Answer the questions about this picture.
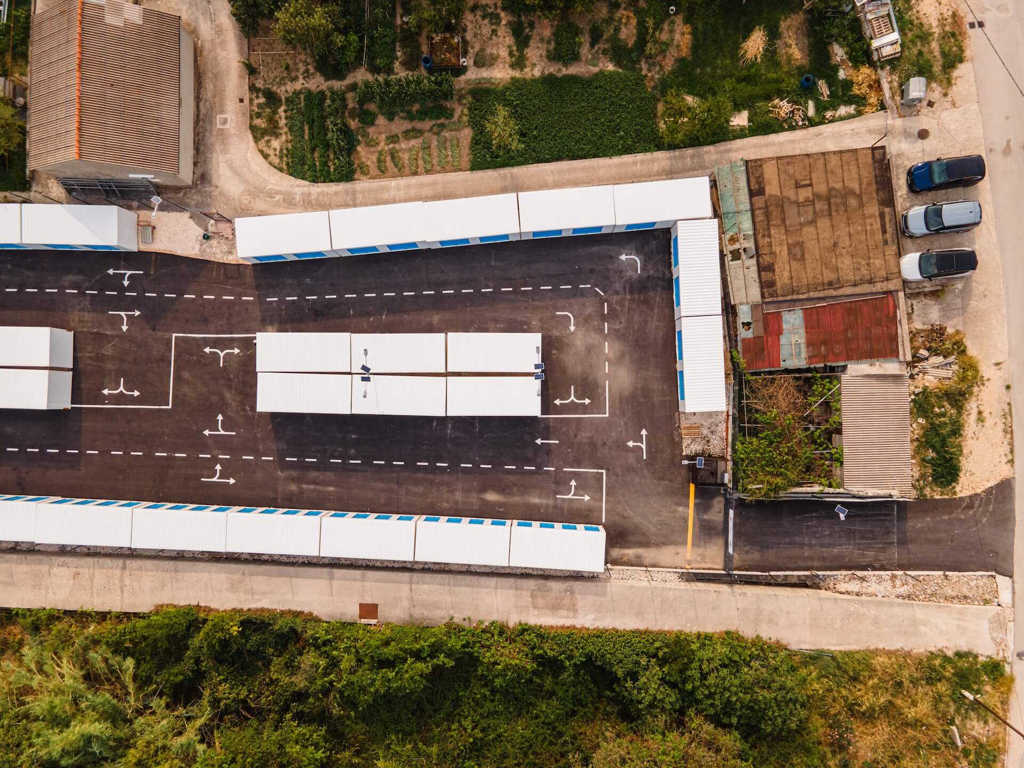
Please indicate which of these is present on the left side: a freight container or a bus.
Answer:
freight container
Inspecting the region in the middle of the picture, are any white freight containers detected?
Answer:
Yes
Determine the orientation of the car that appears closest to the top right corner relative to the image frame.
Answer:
from left to right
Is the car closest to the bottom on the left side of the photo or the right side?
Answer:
right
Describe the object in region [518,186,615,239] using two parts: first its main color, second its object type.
white shipping container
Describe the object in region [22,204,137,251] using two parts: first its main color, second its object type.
white shipping container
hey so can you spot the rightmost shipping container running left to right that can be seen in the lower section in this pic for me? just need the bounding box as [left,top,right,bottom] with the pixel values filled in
[510,520,606,570]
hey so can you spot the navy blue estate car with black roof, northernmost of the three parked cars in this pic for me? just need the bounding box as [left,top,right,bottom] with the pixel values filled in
[904,156,987,193]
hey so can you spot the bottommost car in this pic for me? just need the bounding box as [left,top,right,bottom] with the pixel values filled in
[900,247,979,282]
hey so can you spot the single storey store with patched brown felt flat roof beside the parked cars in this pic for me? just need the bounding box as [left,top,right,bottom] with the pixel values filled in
[742,145,904,303]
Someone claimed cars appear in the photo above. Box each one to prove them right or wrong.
[899,201,983,237]
[904,156,987,193]
[900,247,979,282]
